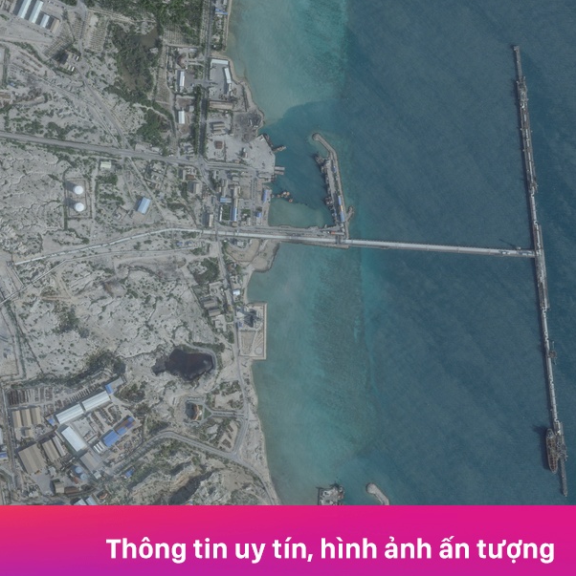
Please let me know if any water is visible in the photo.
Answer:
Yes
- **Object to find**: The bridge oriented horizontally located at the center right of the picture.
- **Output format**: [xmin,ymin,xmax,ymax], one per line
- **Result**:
[342,239,536,257]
